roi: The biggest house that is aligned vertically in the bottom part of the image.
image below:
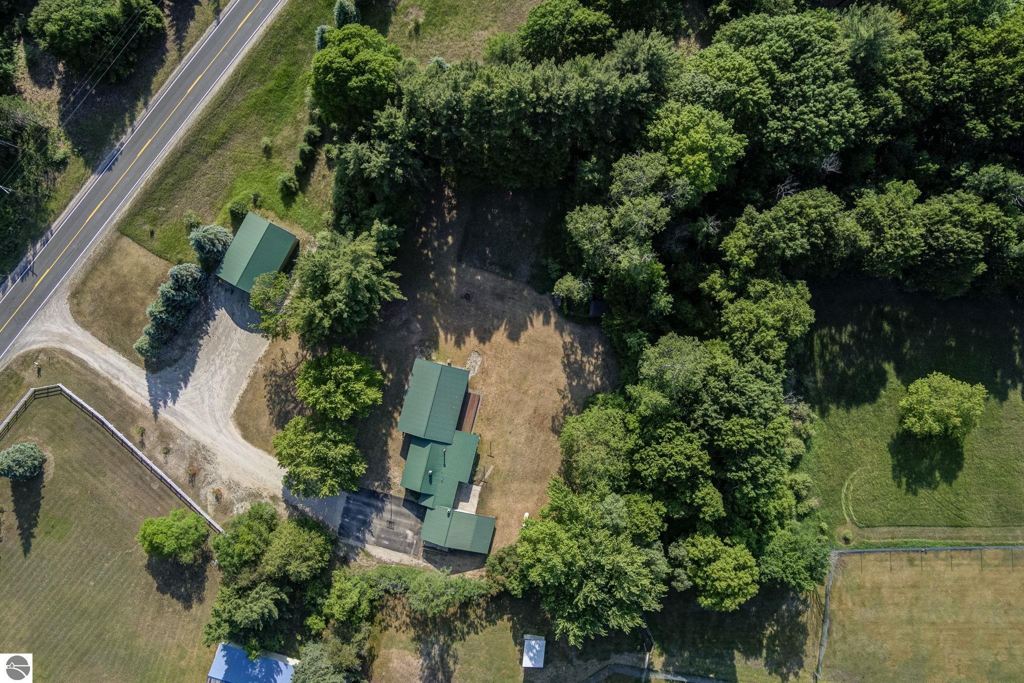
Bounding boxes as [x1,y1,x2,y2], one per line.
[398,358,496,553]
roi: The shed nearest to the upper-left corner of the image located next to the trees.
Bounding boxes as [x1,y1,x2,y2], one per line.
[216,211,298,298]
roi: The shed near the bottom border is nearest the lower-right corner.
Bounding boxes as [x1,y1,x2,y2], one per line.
[523,635,545,668]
